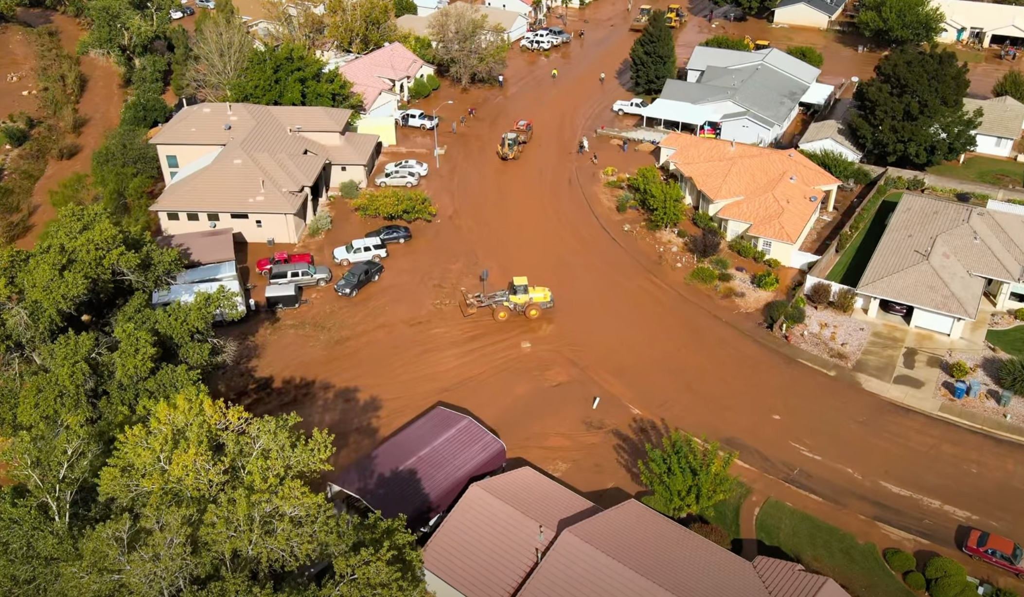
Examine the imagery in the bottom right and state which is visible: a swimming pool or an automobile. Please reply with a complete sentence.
You can see an automobile in the bottom right.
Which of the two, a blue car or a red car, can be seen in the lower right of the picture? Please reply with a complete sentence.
You can see a red car in the lower right of the picture.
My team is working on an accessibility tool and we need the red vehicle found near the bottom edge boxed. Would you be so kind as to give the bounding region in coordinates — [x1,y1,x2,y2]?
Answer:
[960,530,1024,580]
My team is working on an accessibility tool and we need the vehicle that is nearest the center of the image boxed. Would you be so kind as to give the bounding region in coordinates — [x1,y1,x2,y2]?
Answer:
[456,275,553,324]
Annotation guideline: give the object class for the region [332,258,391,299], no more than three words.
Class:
truck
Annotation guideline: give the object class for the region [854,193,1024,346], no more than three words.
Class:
house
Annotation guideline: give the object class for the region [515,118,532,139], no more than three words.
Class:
work vehicle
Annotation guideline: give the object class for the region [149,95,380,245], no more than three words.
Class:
house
